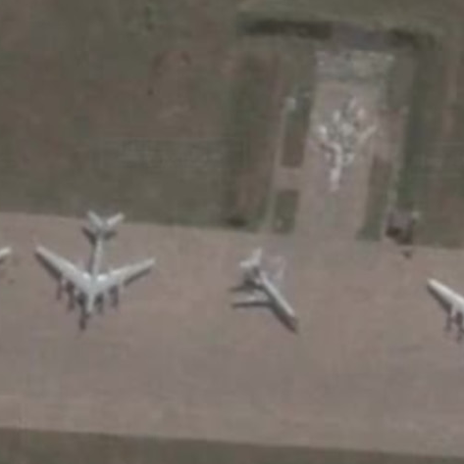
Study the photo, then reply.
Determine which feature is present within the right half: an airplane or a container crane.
airplane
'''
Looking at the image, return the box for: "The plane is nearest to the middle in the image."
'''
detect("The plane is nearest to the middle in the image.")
[235,249,300,324]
